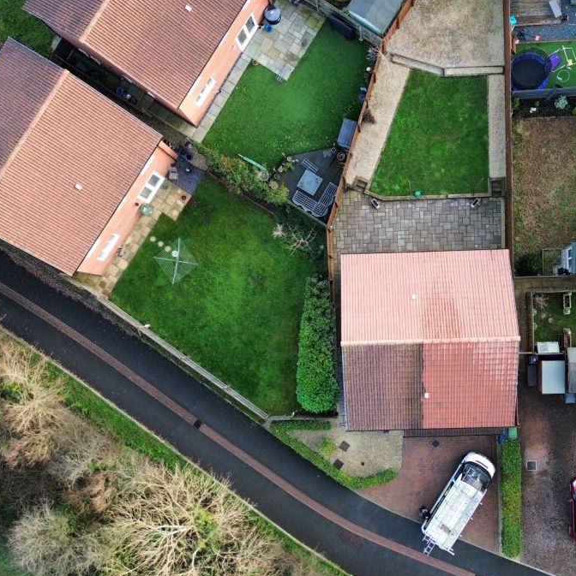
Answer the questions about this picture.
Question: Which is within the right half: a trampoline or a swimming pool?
trampoline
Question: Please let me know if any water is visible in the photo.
No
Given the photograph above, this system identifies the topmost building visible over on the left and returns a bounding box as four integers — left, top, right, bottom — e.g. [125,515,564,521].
[22,0,274,126]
